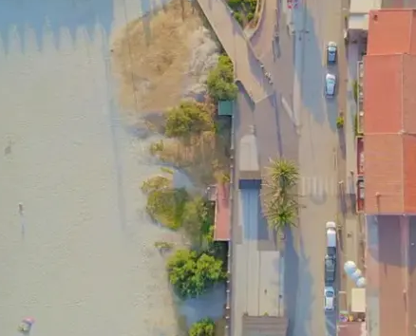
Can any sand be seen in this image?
Yes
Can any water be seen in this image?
No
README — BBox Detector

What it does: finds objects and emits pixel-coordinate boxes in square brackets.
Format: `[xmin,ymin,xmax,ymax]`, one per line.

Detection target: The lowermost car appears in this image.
[323,287,336,312]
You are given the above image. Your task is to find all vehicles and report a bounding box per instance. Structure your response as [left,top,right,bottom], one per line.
[324,249,338,283]
[323,287,336,312]
[325,223,338,249]
[325,74,337,98]
[326,42,338,64]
